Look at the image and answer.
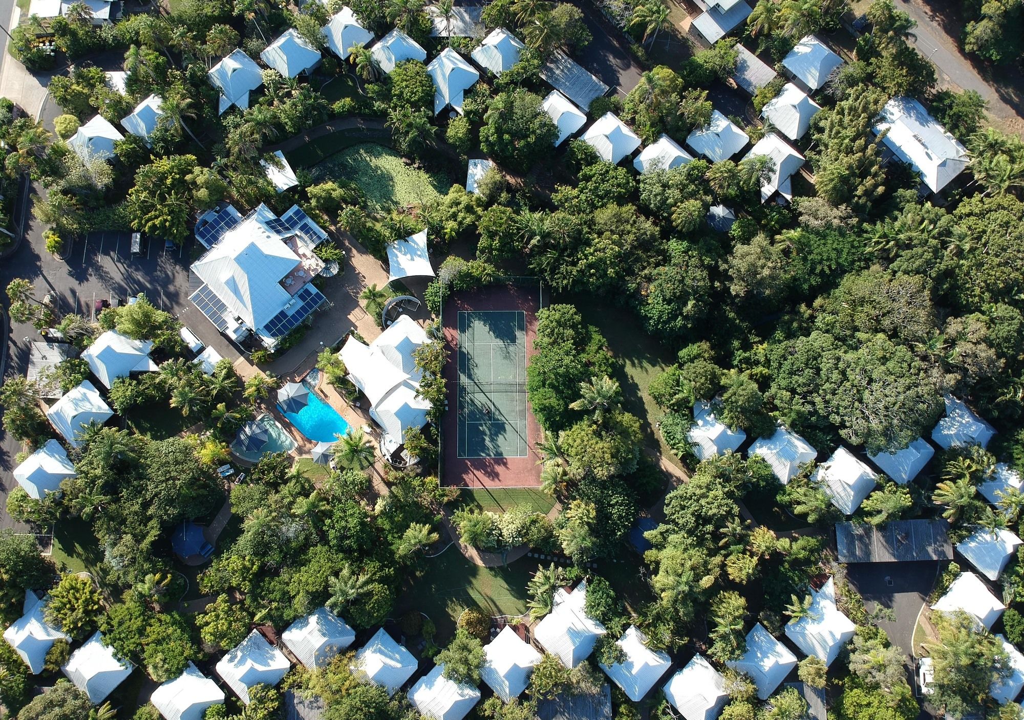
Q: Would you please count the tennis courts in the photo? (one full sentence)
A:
The picture shows 1 tennis court.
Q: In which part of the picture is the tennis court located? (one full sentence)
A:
Look in the center portion of the view to spot the tennis court.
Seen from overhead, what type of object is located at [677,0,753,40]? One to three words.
house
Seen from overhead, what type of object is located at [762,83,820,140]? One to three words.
building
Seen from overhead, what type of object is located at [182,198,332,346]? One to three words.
building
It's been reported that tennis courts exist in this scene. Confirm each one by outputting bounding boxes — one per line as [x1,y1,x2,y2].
[440,279,541,487]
